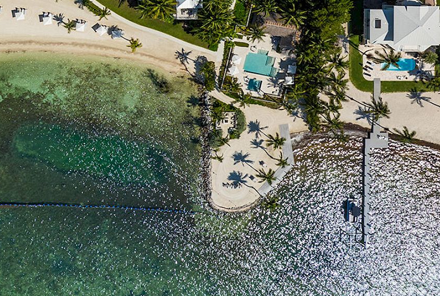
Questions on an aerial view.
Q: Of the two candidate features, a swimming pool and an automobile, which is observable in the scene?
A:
swimming pool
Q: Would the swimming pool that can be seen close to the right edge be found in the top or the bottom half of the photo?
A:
top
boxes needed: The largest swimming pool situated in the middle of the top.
[226,35,298,97]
